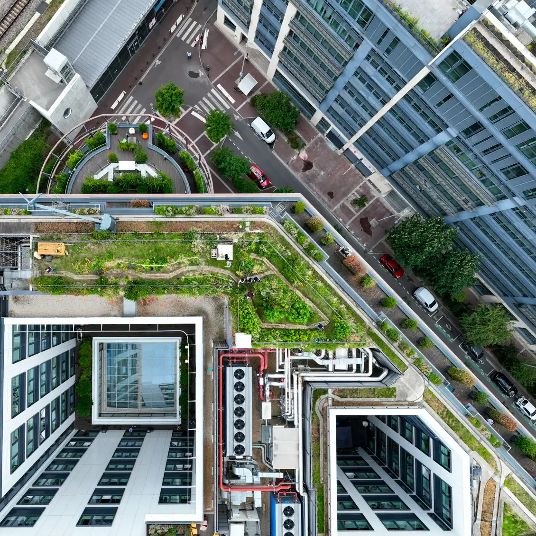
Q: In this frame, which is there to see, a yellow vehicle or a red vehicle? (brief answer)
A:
red vehicle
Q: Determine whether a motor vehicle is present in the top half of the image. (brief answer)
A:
Yes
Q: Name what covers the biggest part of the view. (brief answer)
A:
buildings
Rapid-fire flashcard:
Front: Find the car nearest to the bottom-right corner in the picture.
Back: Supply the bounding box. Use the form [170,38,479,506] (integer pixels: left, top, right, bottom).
[516,396,536,421]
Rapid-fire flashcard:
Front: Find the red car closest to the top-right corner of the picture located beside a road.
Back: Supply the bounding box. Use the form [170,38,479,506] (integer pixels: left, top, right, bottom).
[380,251,403,278]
